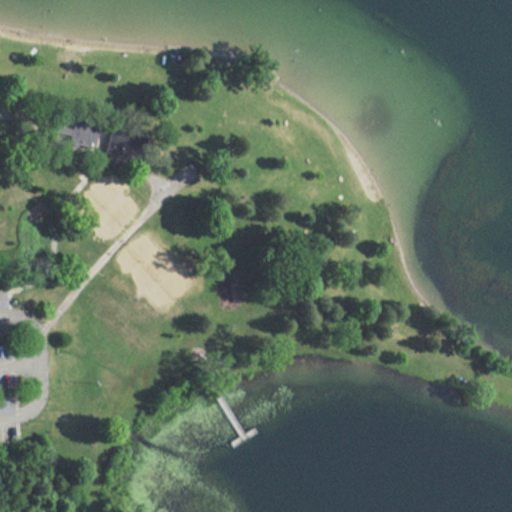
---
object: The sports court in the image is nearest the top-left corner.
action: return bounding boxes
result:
[84,182,138,240]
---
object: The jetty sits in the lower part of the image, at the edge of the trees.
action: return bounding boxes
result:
[218,398,256,445]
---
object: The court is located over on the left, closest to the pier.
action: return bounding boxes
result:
[118,236,196,310]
